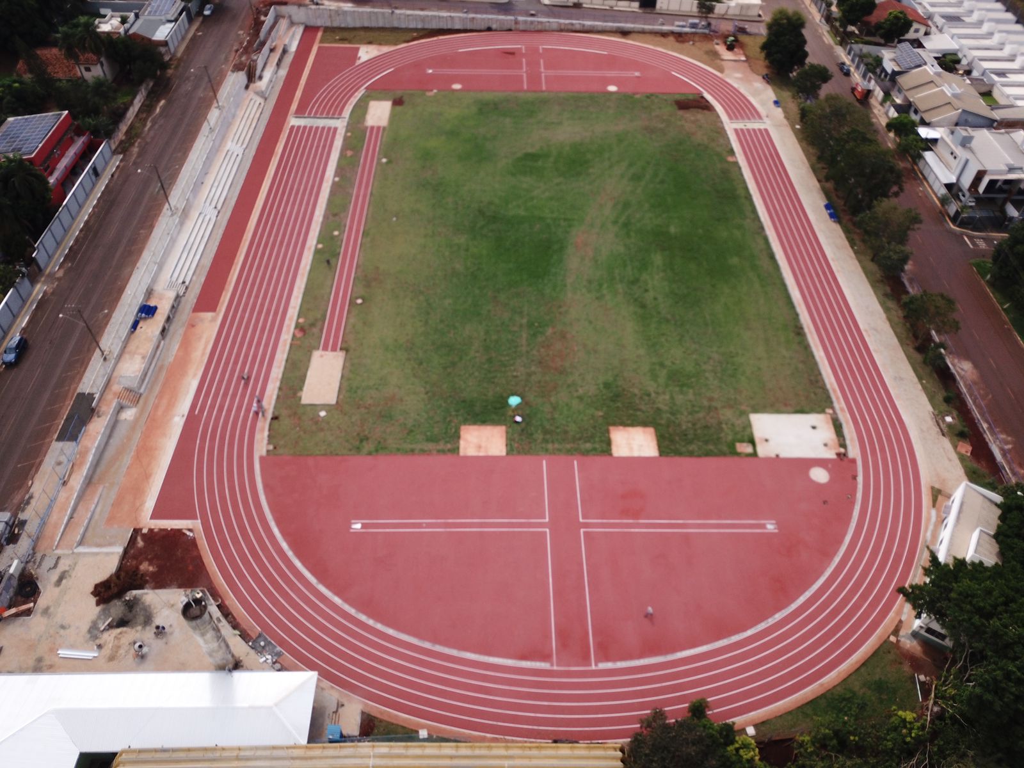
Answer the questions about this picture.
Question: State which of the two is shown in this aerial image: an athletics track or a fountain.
athletics track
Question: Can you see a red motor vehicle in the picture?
Yes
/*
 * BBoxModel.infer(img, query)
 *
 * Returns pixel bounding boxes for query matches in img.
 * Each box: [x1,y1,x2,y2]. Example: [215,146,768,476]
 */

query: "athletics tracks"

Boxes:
[196,31,923,740]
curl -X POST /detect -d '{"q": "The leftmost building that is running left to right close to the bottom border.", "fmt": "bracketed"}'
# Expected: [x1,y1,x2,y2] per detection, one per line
[0,670,320,768]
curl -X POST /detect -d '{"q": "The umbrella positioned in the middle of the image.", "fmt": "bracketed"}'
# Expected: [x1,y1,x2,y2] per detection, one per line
[507,395,522,411]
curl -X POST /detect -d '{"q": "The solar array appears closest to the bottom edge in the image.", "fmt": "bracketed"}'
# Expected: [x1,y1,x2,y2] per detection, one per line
[0,113,63,151]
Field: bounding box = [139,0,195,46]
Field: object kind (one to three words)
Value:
house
